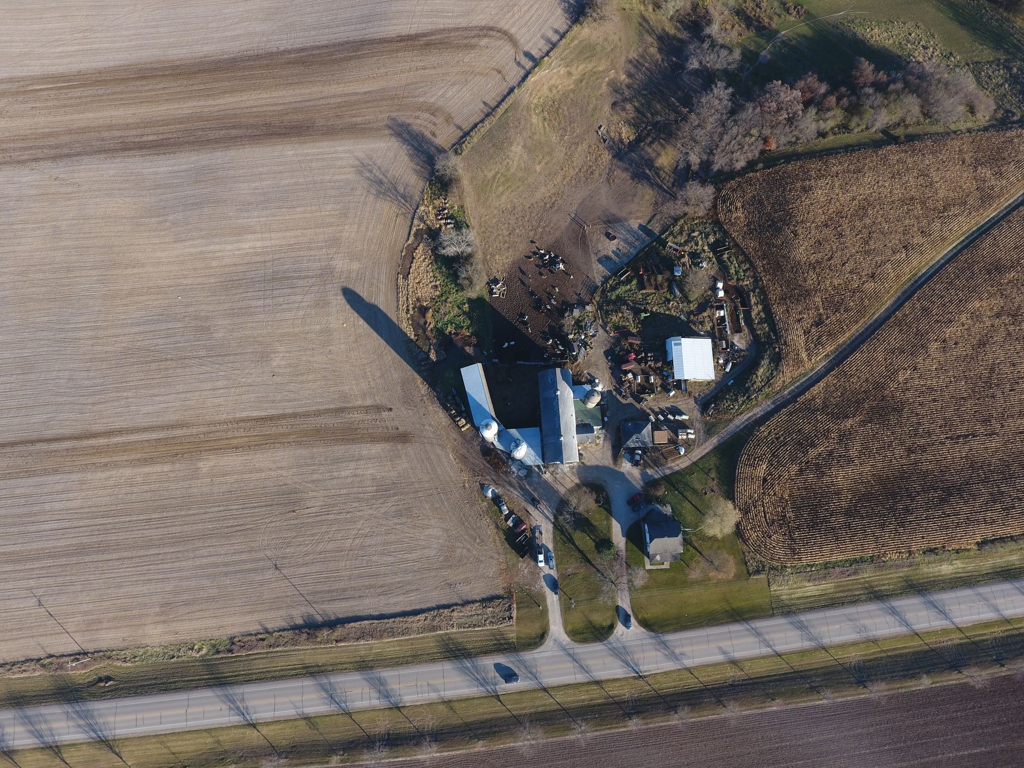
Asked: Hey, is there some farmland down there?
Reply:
Yes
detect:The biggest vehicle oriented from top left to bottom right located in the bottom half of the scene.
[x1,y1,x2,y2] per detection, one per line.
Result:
[496,496,511,516]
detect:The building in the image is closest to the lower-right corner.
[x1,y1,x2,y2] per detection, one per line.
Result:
[646,510,684,566]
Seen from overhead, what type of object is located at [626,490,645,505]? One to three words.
vehicle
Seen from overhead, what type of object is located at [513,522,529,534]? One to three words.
vehicle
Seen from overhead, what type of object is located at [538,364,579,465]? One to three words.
barn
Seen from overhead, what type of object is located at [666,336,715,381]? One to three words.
shed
